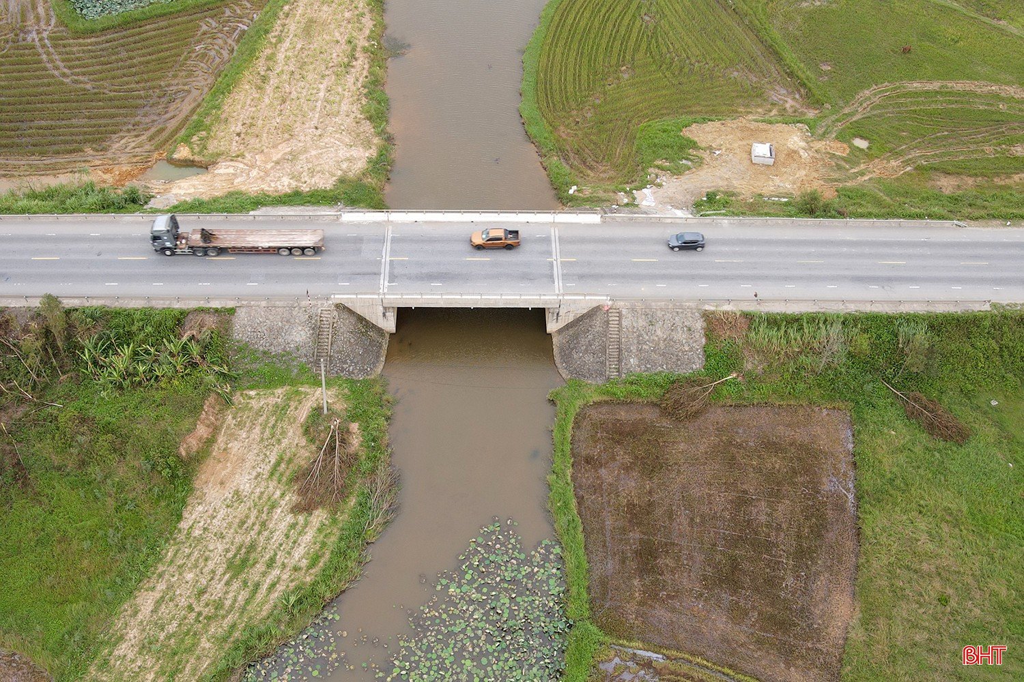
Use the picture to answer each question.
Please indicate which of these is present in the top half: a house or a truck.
truck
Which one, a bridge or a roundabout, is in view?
bridge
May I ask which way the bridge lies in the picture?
from side to side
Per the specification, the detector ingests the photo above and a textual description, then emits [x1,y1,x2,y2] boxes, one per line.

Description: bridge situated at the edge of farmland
[330,210,611,333]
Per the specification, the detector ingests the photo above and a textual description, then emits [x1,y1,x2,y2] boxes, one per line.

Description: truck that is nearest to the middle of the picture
[468,225,519,249]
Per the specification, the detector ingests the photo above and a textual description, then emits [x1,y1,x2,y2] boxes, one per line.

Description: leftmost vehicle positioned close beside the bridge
[147,215,327,256]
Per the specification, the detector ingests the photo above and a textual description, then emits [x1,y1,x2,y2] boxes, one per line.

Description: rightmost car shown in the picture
[668,229,709,250]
